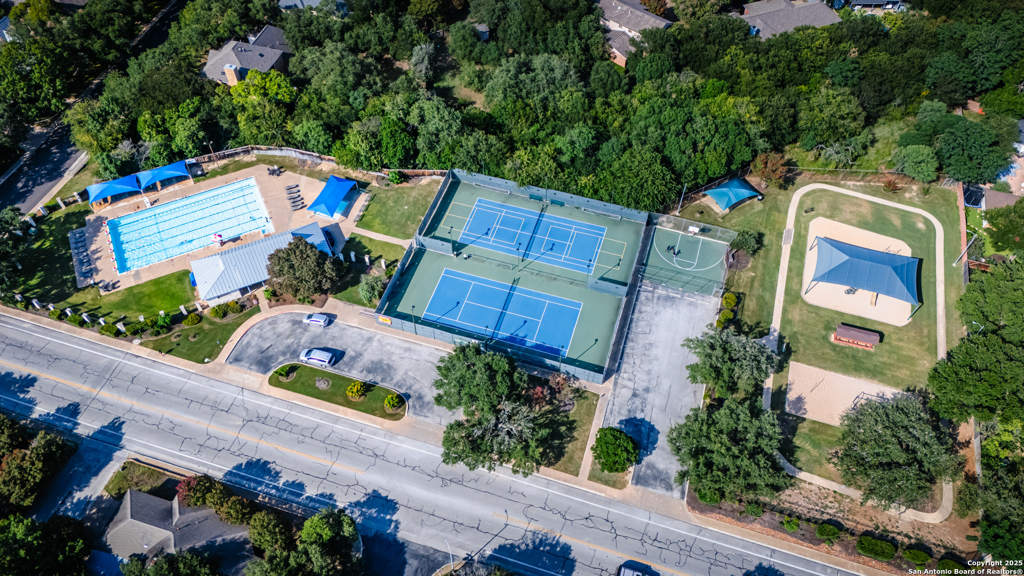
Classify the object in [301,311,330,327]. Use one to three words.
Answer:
car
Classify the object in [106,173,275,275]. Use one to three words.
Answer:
swimming pool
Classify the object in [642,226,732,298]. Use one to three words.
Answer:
basketball court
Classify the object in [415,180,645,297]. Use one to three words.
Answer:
tennis court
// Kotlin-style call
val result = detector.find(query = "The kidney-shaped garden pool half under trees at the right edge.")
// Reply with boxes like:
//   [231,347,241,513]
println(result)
[996,162,1022,188]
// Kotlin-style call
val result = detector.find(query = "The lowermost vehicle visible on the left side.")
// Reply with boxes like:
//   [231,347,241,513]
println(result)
[299,347,333,367]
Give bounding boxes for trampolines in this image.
[963,180,987,205]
